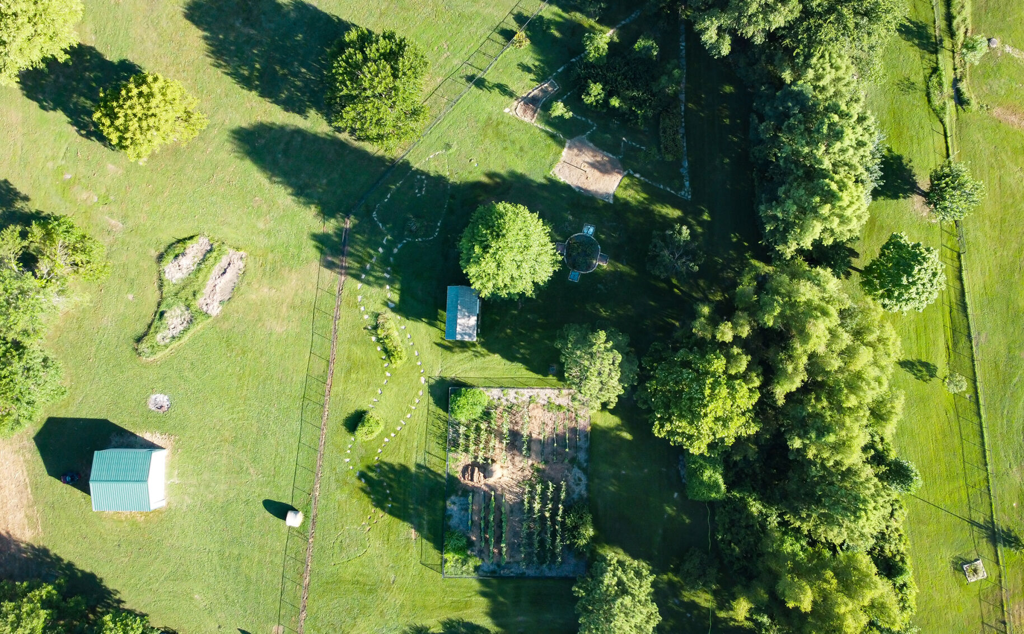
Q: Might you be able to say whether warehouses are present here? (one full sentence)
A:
No, I can't see a single warehouse in this photo.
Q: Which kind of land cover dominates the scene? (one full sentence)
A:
Most of the picture is covered by grass.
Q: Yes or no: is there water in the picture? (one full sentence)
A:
No, the scene doesn't show any water.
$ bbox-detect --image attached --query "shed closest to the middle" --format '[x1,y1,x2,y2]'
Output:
[445,285,484,340]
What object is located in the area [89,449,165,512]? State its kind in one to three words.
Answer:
shed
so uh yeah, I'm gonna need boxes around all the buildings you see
[89,449,165,512]
[445,285,484,340]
